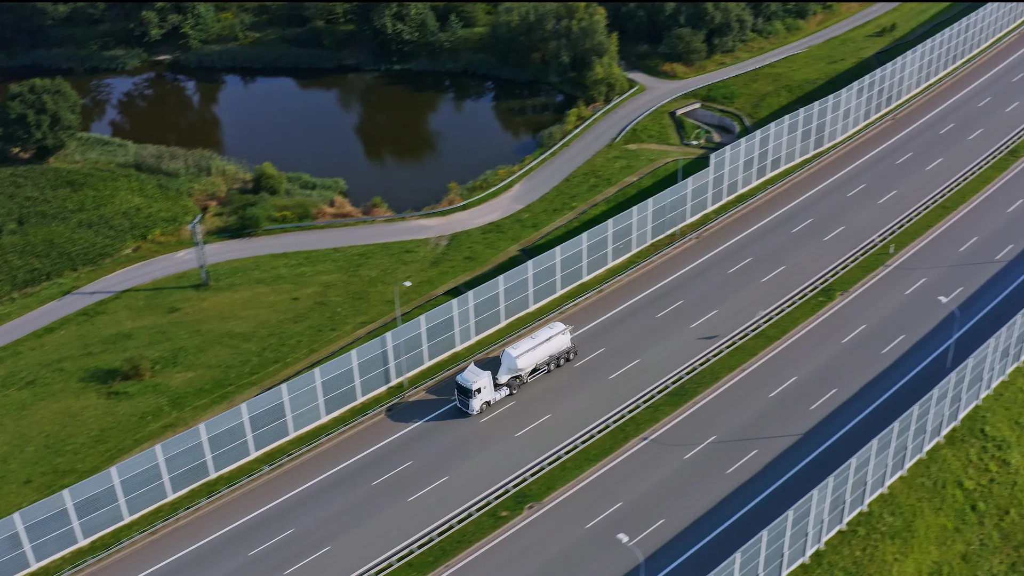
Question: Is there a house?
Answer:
No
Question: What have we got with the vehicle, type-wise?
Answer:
truck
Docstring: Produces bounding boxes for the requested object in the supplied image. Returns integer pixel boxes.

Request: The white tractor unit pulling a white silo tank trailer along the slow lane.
[452,320,581,415]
